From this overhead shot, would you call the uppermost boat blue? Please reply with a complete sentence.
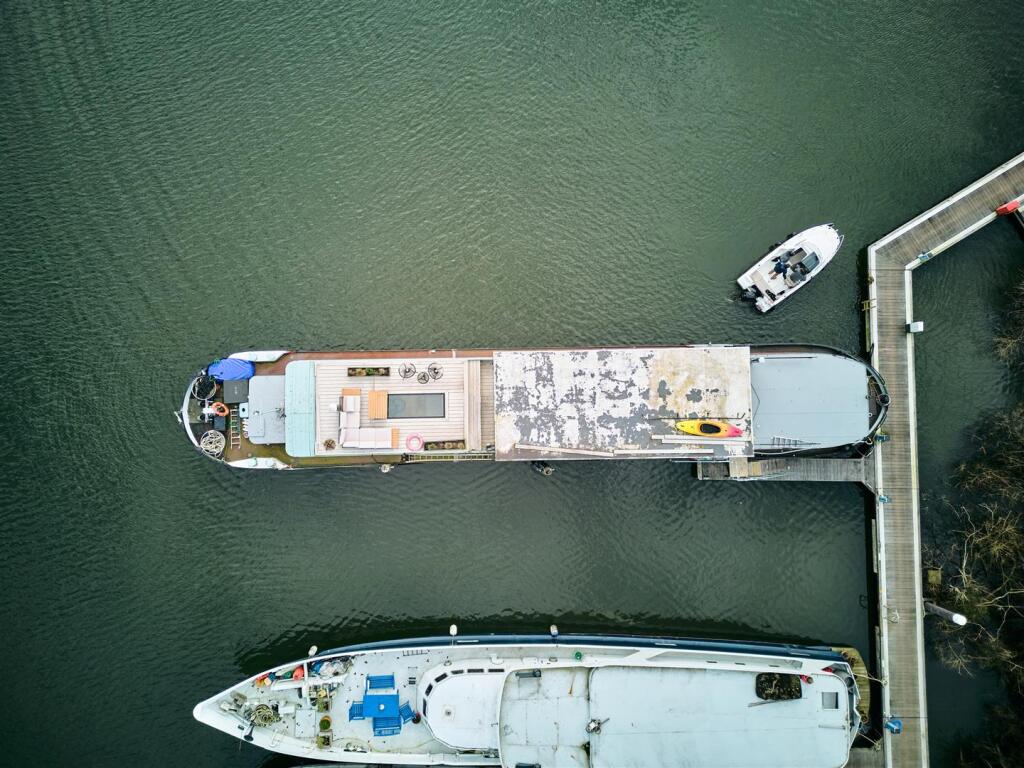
No, from above the uppermost boat looks white.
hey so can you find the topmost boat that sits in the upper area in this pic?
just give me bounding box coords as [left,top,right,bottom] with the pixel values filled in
[737,227,845,314]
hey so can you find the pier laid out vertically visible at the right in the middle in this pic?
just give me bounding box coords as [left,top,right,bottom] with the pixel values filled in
[864,153,1024,768]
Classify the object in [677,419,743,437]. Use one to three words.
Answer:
boat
